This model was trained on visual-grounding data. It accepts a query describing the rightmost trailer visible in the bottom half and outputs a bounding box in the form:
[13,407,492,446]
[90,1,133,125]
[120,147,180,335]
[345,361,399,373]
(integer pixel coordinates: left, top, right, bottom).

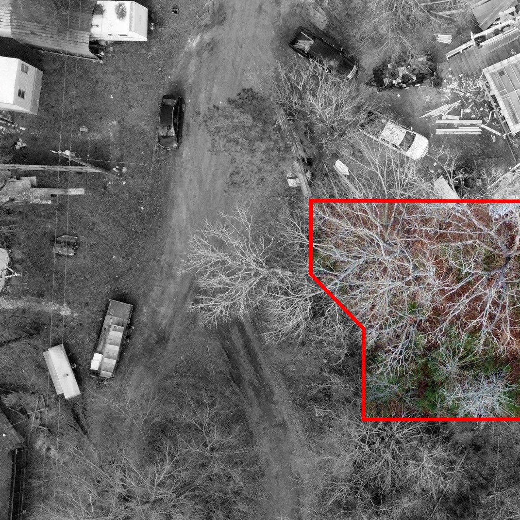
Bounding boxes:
[89,297,136,386]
